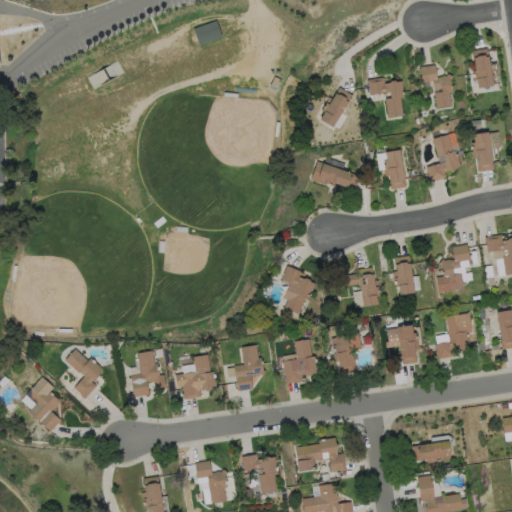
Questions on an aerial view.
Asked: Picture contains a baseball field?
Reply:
Yes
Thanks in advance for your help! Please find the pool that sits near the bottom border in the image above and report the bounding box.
[444,475,466,487]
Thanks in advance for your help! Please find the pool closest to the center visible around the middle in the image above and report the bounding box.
[266,282,283,304]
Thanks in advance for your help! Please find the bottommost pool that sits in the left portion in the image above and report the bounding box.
[0,386,20,406]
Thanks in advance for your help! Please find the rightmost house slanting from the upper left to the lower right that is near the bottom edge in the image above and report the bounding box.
[410,474,468,512]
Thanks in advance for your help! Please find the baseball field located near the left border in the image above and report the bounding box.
[4,190,154,332]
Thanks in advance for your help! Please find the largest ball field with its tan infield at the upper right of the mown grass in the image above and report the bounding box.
[137,94,276,231]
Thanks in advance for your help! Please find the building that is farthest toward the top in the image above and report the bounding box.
[195,20,222,44]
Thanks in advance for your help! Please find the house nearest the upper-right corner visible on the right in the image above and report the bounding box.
[474,48,494,88]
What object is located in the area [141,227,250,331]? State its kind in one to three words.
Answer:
baseball field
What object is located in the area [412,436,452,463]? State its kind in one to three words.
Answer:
house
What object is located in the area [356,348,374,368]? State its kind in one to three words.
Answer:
swimming pool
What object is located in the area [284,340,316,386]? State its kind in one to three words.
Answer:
house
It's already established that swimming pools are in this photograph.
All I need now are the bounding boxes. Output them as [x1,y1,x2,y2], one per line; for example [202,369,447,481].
[356,348,374,368]
[0,386,20,406]
[266,282,283,304]
[444,475,466,487]
[424,144,434,163]
[89,348,108,360]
